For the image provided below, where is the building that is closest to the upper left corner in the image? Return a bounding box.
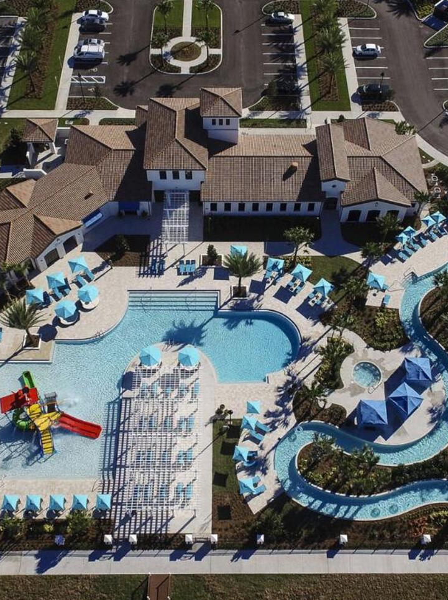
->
[21,118,60,144]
